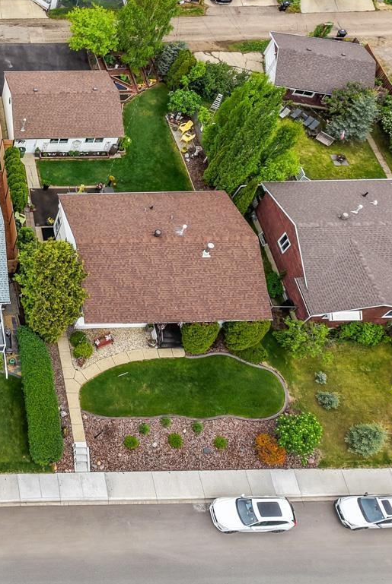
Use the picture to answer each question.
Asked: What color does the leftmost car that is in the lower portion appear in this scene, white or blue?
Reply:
white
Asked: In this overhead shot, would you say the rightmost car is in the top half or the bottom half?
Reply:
bottom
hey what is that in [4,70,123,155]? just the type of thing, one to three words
building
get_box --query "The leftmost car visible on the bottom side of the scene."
[205,493,297,536]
